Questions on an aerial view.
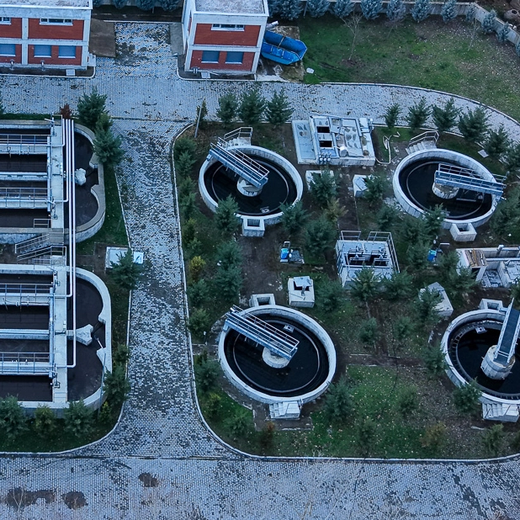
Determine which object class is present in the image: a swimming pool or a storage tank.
storage tank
